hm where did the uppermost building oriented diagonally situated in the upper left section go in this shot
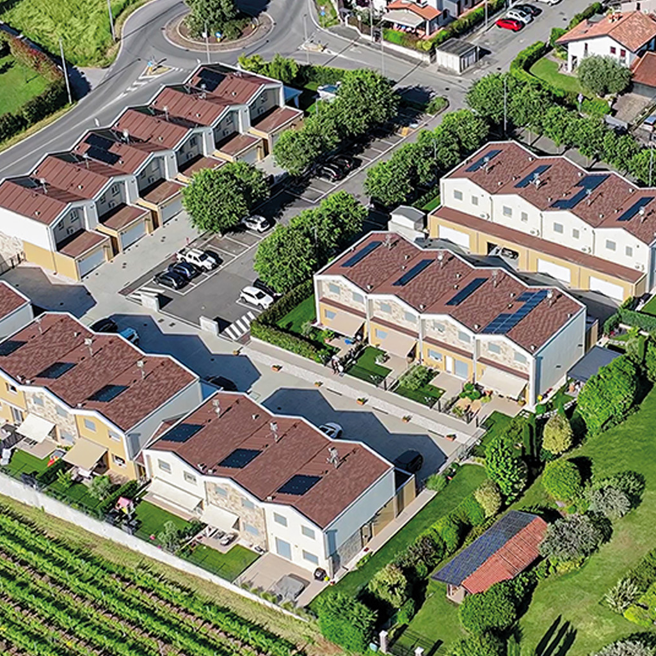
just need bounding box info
[0,56,294,281]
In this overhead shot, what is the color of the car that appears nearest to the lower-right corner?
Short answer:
black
